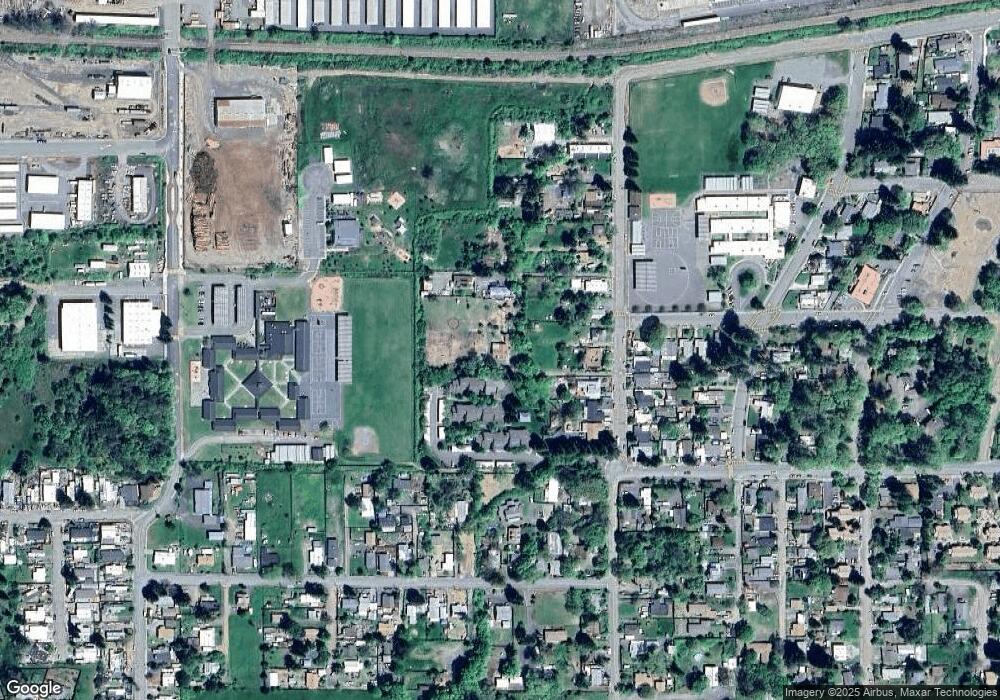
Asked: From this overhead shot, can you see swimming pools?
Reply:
No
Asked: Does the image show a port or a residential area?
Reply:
residential area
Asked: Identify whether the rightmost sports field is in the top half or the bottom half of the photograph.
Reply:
top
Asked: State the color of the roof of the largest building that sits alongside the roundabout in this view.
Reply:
white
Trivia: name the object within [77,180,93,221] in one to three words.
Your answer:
building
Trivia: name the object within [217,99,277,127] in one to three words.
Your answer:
building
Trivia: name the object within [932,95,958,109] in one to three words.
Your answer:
house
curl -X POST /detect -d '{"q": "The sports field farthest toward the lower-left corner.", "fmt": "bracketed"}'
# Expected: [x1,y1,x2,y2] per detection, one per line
[341,280,413,465]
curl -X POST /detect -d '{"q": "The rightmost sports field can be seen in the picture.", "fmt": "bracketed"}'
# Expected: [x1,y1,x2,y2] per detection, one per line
[629,62,775,192]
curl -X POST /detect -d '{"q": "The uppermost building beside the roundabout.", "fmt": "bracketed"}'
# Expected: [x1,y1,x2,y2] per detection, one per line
[697,196,790,259]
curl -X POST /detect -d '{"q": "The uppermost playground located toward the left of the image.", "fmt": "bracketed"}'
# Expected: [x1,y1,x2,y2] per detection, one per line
[311,277,343,311]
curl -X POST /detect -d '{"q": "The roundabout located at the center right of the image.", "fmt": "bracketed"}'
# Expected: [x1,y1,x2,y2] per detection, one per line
[730,259,772,311]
